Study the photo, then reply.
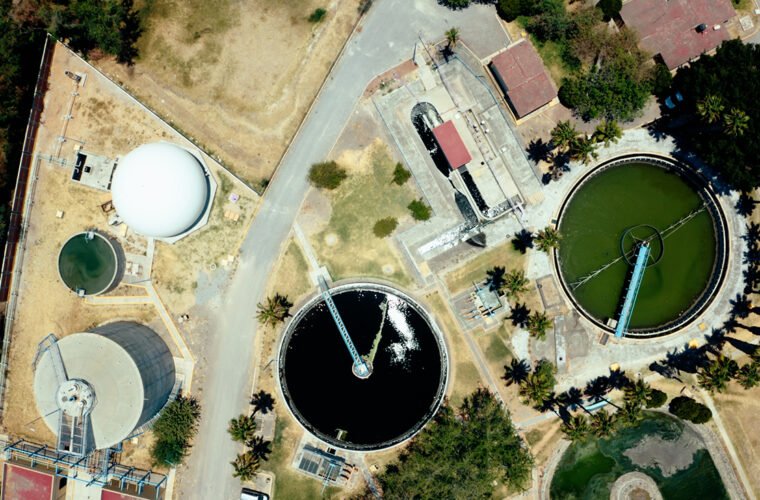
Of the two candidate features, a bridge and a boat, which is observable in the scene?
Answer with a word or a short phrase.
bridge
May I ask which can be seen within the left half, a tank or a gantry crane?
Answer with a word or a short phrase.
tank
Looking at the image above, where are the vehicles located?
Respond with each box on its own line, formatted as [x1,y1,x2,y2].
[662,86,691,112]
[239,489,272,500]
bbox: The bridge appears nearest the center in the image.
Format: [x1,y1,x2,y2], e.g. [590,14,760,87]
[315,282,364,373]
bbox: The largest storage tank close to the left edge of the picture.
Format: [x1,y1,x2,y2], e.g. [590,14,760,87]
[24,318,180,458]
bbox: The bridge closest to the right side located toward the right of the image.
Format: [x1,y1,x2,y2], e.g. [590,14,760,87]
[613,237,651,340]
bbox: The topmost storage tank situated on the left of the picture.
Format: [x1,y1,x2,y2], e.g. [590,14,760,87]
[57,231,128,295]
